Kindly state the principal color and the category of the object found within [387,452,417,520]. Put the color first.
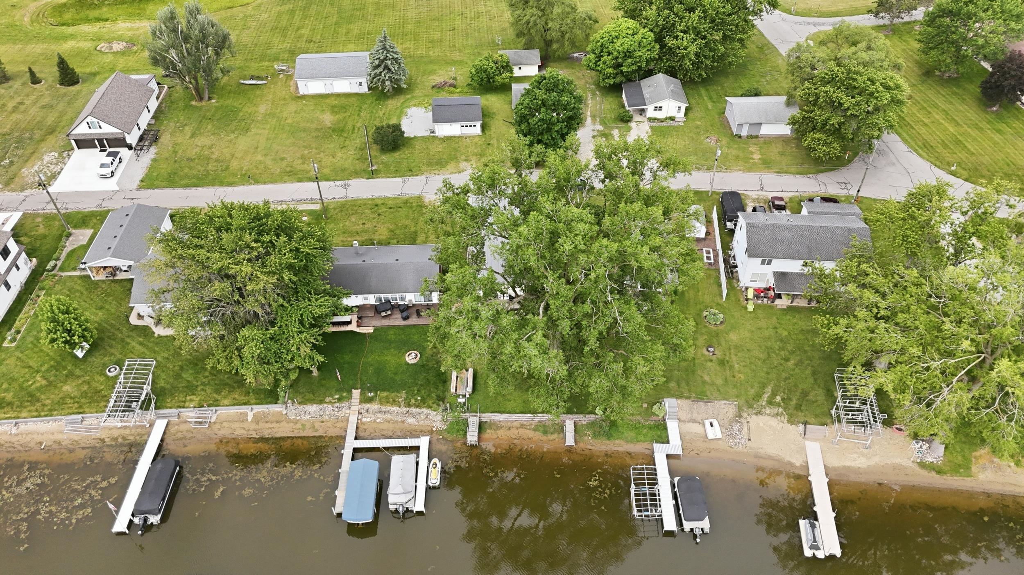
white boat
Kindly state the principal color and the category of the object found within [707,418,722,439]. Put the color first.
white boat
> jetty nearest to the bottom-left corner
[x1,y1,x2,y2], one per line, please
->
[112,425,167,534]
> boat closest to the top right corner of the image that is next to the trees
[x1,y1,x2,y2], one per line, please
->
[719,189,744,230]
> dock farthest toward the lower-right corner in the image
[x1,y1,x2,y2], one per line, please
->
[808,450,848,559]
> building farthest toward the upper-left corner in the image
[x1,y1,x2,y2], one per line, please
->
[67,69,167,153]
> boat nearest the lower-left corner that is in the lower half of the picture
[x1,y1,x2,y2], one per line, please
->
[135,462,185,530]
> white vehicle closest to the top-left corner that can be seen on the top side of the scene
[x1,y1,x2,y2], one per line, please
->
[96,150,121,176]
